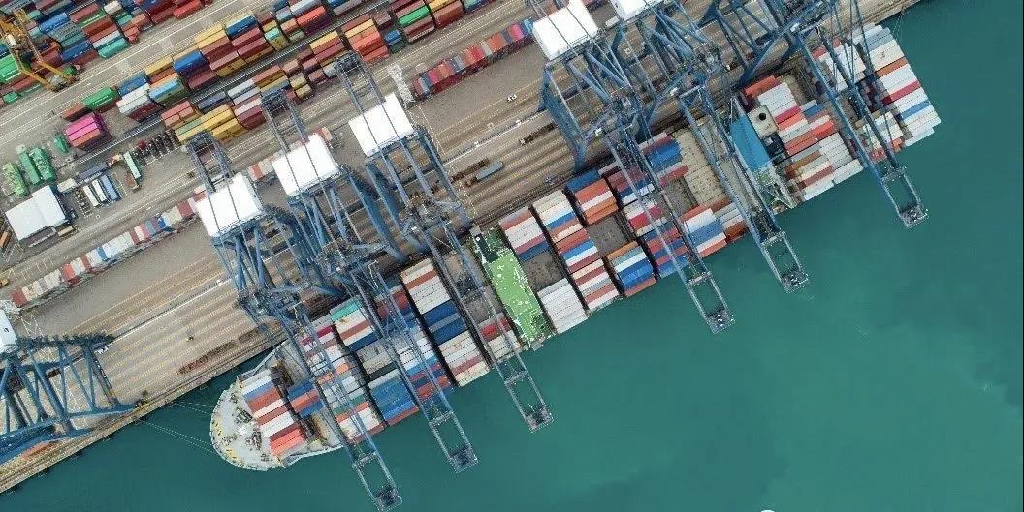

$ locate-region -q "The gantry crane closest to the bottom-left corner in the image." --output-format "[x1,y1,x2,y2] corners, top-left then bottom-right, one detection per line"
[0,302,153,469]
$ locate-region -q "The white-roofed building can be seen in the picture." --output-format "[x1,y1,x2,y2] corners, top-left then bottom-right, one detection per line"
[10,185,77,250]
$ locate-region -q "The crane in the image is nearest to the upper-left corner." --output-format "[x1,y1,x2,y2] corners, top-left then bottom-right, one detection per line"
[0,3,77,93]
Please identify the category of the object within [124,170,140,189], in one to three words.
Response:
vehicle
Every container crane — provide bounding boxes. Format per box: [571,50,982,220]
[330,48,556,434]
[184,123,405,512]
[0,3,77,93]
[0,302,153,469]
[524,0,739,333]
[593,0,813,292]
[257,85,480,476]
[694,0,933,225]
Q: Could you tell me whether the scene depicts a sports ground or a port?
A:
port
